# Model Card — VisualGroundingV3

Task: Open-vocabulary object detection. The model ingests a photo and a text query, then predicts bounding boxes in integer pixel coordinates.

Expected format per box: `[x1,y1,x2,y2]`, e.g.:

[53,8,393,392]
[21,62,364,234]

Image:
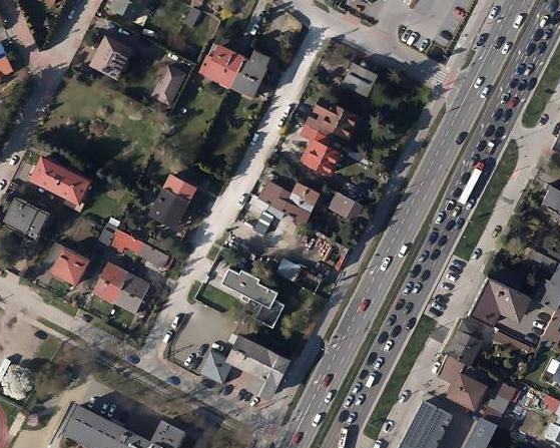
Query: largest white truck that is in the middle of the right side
[458,160,484,205]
